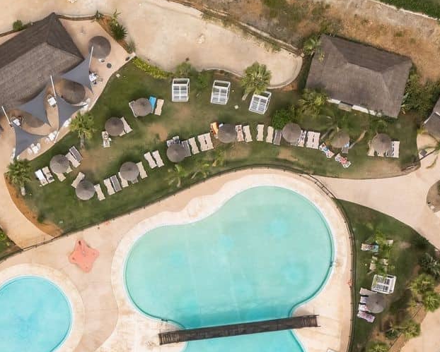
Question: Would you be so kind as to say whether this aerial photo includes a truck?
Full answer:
No, there's no truck here.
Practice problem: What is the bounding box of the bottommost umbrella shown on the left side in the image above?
[74,179,95,200]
